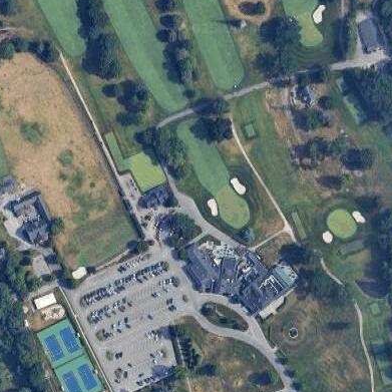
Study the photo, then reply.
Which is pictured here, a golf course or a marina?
golf course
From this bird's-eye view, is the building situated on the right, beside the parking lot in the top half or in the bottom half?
bottom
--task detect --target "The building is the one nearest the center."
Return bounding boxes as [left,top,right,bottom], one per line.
[138,187,171,208]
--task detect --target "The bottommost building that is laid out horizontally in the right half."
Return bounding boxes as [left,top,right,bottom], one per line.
[182,247,302,317]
